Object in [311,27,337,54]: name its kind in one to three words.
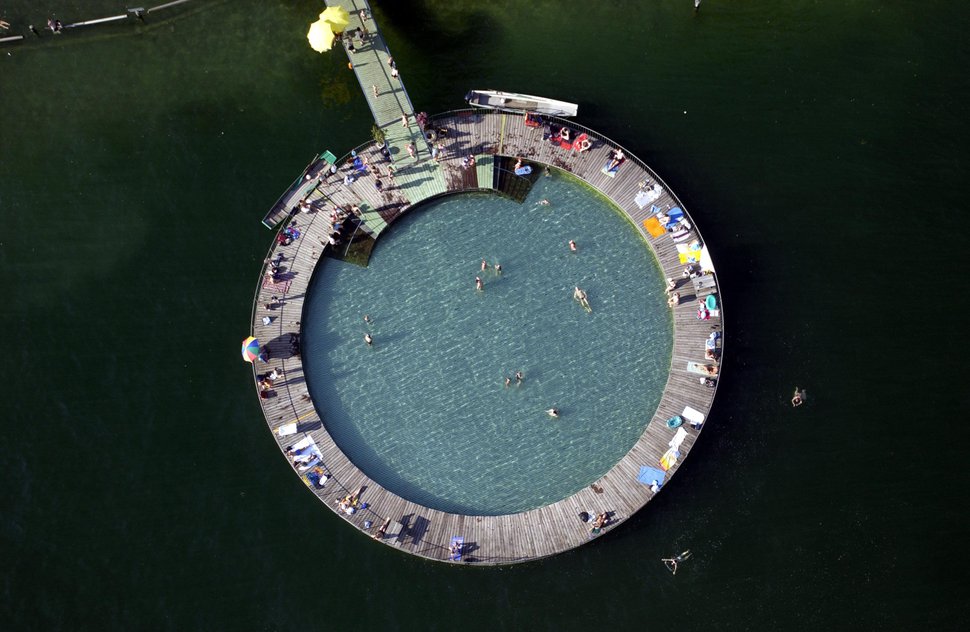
umbrella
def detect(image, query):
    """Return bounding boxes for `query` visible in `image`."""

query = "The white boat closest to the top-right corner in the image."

[466,90,578,115]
